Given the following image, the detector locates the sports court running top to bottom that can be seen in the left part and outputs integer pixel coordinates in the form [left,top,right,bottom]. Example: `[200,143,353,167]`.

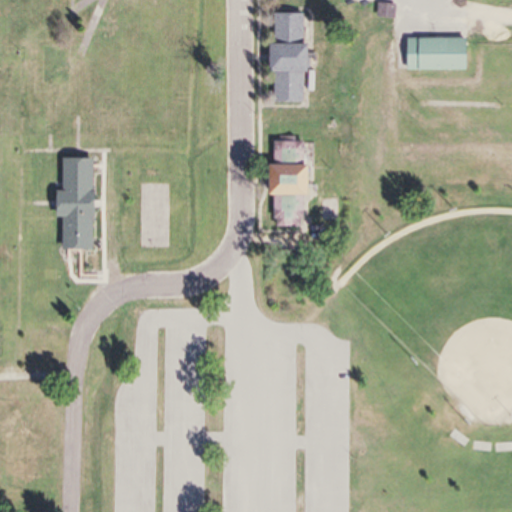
[141,182,169,246]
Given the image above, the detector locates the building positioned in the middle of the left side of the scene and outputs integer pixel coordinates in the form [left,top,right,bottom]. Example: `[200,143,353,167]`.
[56,157,95,248]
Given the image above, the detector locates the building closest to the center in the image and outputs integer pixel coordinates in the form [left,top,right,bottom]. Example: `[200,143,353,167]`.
[269,134,308,226]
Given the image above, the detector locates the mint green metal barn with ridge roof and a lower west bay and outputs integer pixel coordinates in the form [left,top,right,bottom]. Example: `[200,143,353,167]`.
[407,37,467,70]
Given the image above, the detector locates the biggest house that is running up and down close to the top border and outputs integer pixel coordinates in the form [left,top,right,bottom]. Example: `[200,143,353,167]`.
[270,12,316,102]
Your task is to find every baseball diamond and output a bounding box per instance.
[331,206,512,435]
